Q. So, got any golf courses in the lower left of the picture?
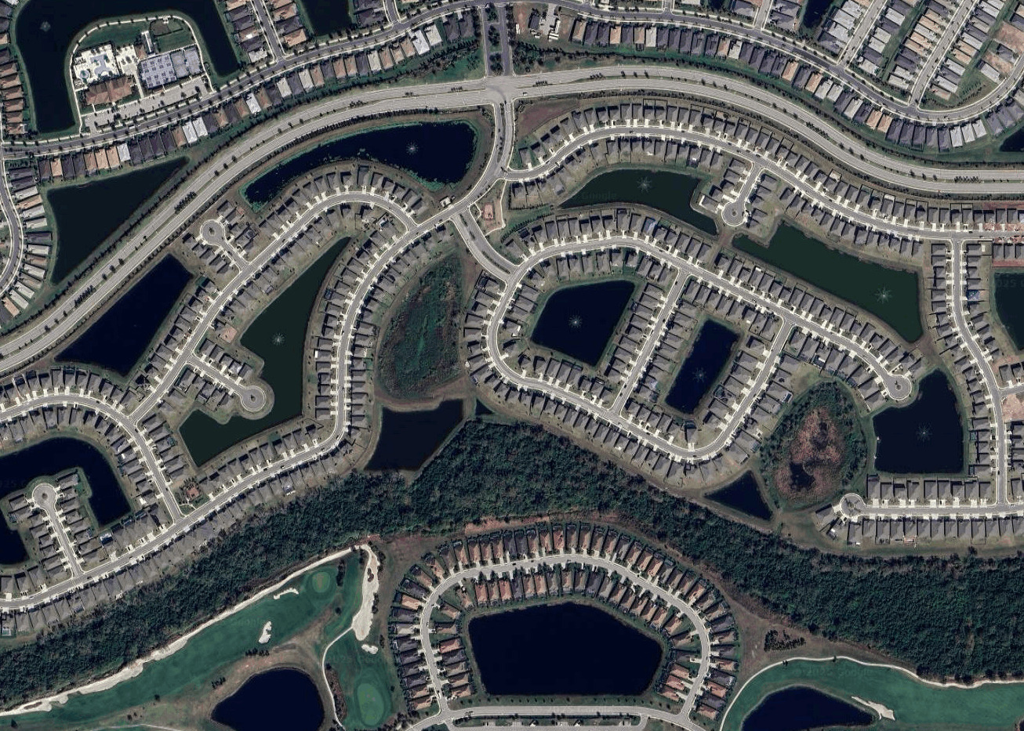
Yes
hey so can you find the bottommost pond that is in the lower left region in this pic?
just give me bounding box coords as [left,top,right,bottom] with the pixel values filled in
[211,669,324,731]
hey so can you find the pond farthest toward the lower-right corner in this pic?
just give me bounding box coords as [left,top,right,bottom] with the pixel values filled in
[742,686,873,731]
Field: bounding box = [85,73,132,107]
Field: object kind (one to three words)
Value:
building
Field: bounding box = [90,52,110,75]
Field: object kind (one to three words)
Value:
swimming pool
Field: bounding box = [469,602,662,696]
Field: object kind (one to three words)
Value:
pond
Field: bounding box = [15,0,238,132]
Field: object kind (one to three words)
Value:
pond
